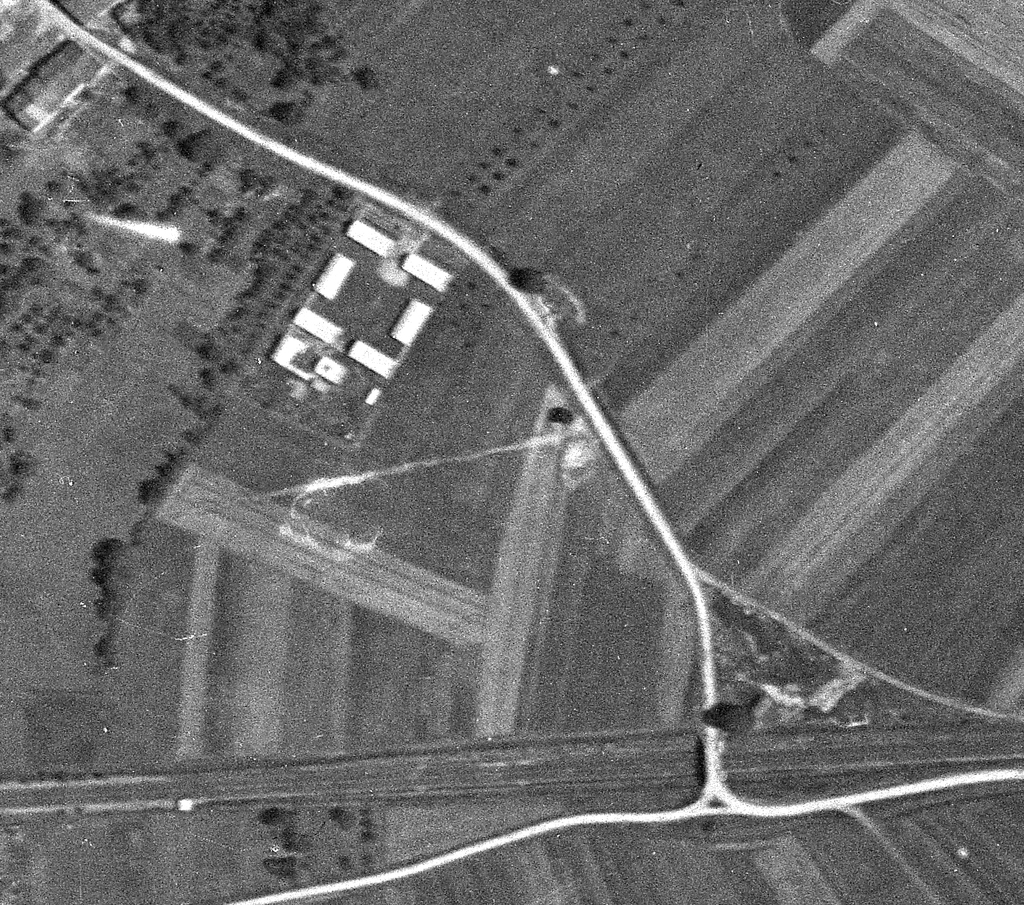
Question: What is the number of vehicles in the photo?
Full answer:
The photo contains no vehicles.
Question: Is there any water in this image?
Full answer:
No, water can't be seen anywhere here.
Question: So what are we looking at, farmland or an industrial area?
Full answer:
What you see here is farmland.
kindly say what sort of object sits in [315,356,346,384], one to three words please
building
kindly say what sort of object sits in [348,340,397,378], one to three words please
shed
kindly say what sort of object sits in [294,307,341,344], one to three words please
shed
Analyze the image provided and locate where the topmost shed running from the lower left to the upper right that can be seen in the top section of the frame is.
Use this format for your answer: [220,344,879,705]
[316,253,355,298]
